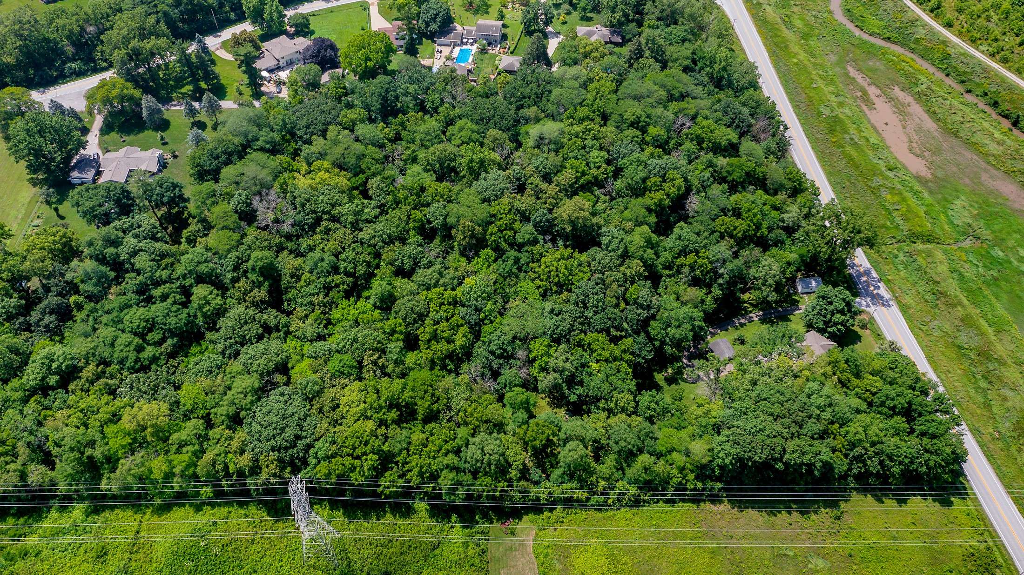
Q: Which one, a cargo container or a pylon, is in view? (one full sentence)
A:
The one in the frame is a pylon.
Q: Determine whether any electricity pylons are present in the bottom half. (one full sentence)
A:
Yes, an electricity pylon shows up in the bottom half.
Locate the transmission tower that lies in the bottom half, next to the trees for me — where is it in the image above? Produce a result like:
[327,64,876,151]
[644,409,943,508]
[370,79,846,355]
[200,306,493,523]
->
[285,476,340,567]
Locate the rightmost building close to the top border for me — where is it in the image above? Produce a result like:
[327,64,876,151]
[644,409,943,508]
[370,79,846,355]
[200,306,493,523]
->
[577,23,625,52]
